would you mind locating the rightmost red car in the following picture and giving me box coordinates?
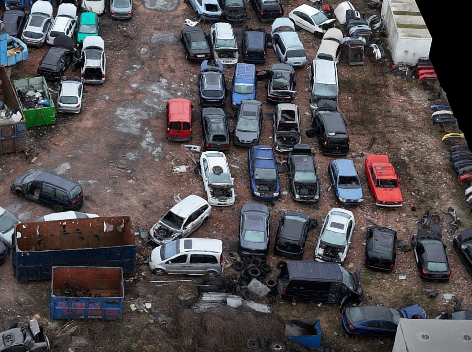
[361,156,399,214]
